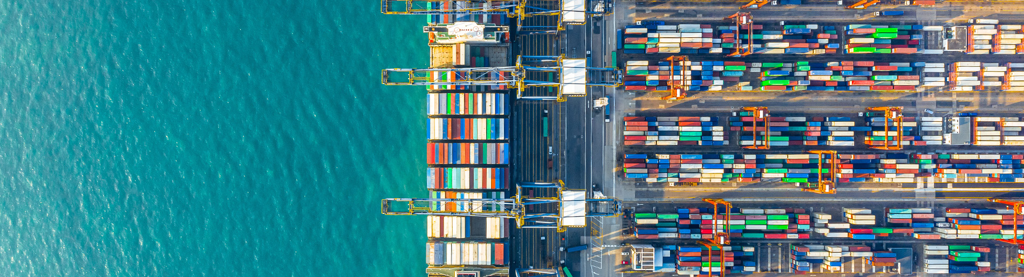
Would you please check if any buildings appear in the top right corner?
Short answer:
Yes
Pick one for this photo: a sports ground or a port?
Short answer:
port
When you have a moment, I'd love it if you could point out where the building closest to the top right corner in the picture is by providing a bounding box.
[936,26,968,52]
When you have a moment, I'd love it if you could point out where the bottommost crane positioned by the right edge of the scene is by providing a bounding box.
[983,201,1024,245]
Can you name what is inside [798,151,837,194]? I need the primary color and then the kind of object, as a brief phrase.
orange crane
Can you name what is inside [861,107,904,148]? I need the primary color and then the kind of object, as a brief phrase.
orange crane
